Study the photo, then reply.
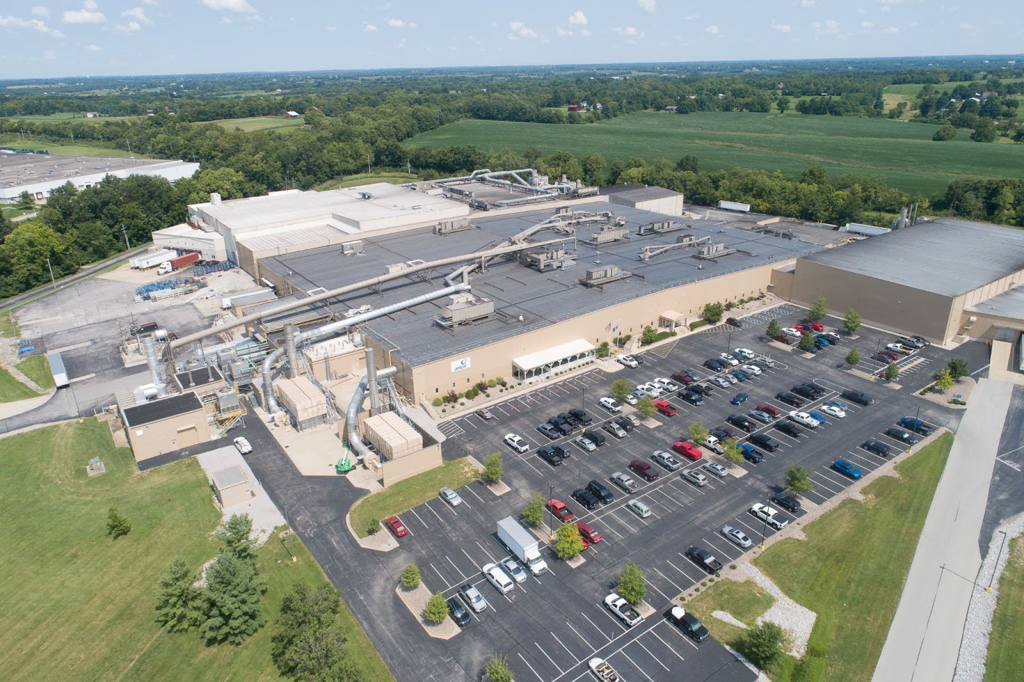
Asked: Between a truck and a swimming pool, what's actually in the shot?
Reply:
truck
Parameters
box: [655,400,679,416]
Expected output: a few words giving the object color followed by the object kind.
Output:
red vehicle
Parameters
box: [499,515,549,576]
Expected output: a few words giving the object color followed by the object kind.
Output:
white truck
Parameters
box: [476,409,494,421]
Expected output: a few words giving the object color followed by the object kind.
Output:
gray vehicle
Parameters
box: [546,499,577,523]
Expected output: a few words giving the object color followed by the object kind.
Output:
red truck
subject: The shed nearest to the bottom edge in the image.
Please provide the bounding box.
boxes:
[209,463,251,507]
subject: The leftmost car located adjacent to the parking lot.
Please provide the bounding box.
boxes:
[232,440,253,454]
